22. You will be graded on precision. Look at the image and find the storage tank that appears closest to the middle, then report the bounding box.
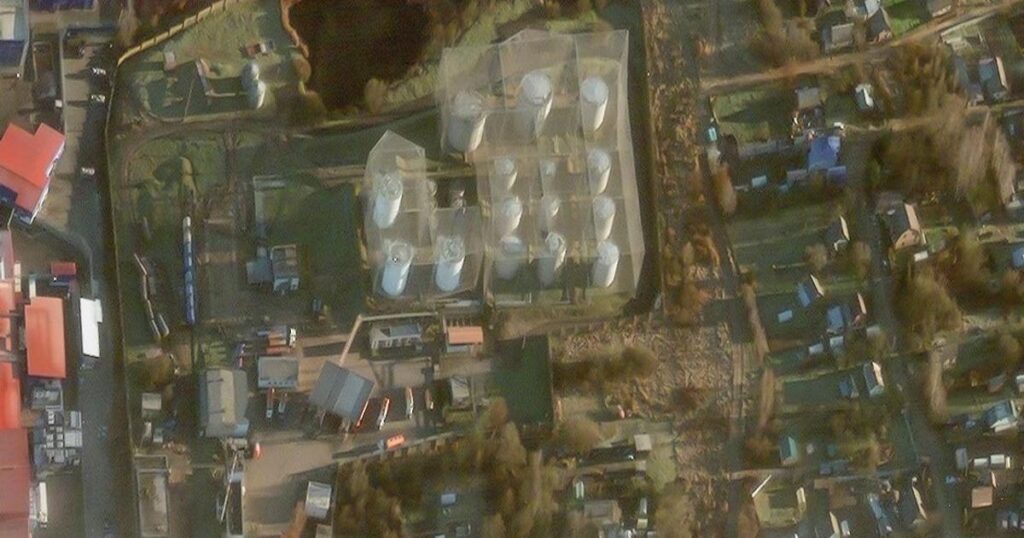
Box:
[494,229,524,283]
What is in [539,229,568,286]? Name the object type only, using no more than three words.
storage tank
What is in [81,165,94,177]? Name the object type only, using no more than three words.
vehicle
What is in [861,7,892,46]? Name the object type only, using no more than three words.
house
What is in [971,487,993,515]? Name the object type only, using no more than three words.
shed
